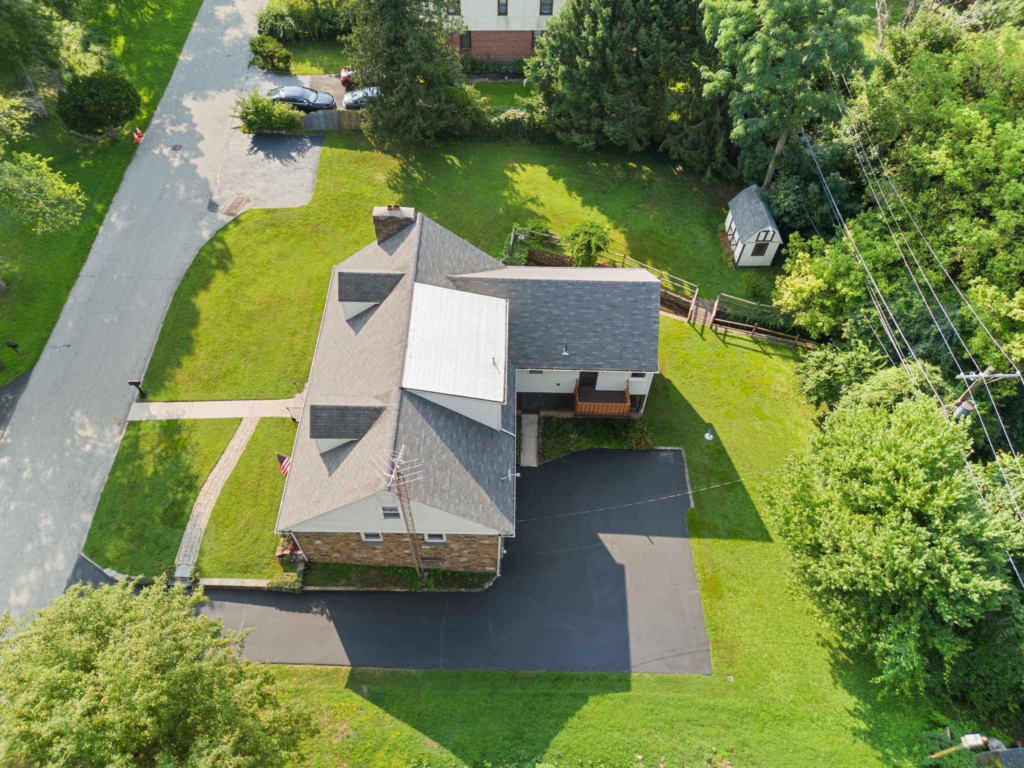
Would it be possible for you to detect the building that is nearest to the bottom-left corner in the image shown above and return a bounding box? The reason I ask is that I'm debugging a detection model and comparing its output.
[270,203,663,582]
